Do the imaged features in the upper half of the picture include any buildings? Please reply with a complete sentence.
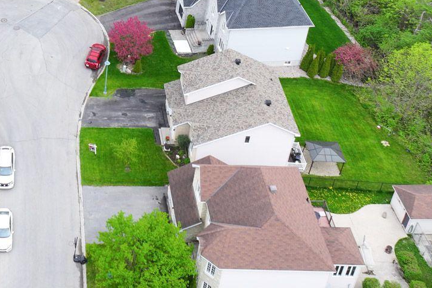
Yes, in the upper half of the picture there is a building.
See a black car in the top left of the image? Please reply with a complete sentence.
No, I can find no black car in the top left of the image.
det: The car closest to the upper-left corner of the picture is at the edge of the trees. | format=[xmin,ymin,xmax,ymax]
[82,43,108,73]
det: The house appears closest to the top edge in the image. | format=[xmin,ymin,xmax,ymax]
[173,0,315,70]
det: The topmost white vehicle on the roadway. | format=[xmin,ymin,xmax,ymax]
[0,149,18,191]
